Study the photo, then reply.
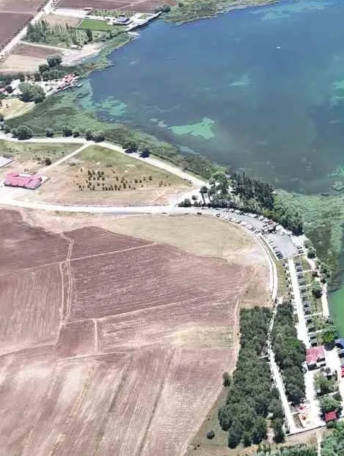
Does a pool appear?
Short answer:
No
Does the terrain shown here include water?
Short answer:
Yes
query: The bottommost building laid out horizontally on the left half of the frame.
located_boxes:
[2,173,49,190]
